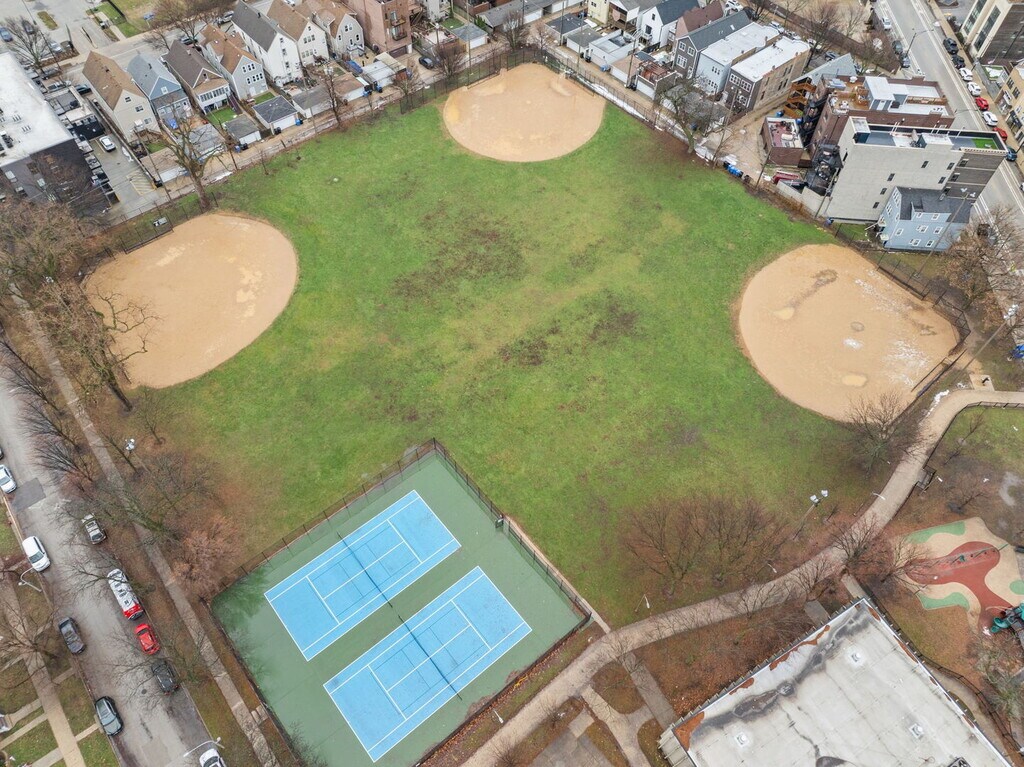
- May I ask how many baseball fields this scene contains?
three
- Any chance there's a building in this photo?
Yes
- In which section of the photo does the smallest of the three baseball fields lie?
top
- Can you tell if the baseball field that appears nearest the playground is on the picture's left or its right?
right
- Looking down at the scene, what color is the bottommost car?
white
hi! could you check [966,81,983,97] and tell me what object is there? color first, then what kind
white car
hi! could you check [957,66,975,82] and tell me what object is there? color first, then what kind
white car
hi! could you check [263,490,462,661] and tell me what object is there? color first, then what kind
blue tennis court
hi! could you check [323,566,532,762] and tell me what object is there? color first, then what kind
blue tennis court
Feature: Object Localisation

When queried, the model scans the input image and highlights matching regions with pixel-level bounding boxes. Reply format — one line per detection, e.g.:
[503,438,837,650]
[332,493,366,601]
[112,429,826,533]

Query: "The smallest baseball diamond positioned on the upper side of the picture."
[440,60,610,165]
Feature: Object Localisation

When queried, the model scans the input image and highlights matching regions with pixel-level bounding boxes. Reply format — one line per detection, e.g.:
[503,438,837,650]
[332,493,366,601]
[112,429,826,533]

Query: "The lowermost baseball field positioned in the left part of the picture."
[86,208,303,392]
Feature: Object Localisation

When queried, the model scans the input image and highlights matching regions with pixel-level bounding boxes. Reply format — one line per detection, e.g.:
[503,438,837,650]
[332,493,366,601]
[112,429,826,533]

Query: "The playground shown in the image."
[896,517,1024,643]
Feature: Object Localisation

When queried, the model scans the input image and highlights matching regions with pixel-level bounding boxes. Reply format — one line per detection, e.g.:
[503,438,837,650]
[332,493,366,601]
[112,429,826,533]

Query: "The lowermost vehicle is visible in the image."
[197,742,225,767]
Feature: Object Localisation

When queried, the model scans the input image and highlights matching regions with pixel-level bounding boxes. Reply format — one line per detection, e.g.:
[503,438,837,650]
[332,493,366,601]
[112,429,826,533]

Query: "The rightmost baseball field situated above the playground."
[735,240,962,426]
